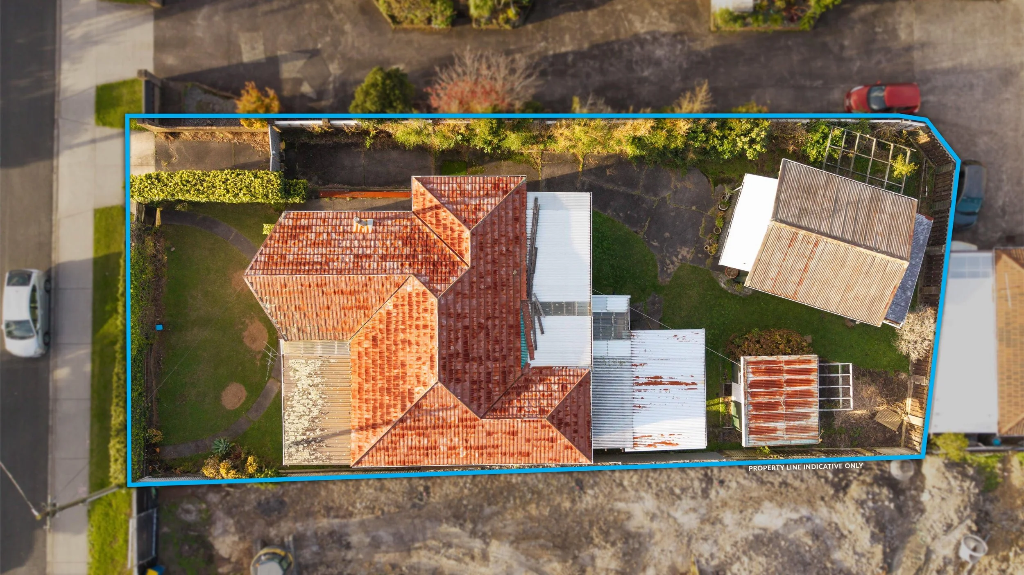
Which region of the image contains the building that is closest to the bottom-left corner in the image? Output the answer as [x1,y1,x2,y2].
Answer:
[242,174,593,468]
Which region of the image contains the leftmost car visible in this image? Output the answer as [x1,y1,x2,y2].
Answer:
[5,269,56,356]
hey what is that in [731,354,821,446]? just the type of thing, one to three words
shed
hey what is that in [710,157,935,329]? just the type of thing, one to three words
building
